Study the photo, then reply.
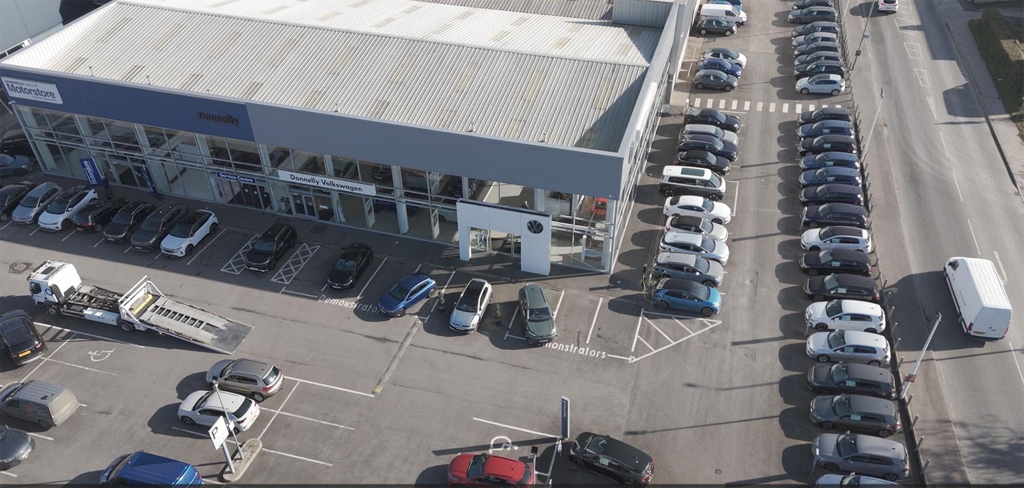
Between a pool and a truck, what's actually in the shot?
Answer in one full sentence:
There is a truck in the scene.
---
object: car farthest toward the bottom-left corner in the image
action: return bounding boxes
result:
[0,421,37,470]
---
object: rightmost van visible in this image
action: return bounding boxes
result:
[947,262,1021,343]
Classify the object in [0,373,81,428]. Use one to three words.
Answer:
van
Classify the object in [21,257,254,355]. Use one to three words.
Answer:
truck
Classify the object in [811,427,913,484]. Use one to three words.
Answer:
car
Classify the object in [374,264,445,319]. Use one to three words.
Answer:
car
